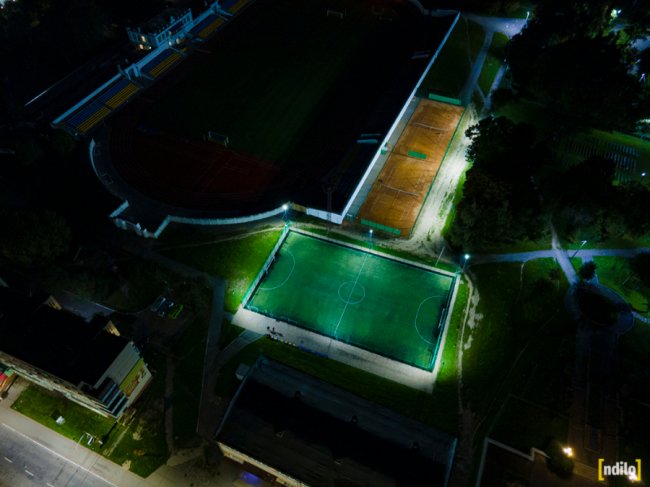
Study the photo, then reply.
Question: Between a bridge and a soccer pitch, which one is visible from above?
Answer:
soccer pitch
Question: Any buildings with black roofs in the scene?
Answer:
Yes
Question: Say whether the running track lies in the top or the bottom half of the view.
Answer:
top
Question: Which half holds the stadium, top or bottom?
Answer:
top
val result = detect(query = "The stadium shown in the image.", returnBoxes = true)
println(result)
[51,0,462,235]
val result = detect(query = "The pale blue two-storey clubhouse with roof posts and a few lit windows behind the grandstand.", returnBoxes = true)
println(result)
[128,8,193,53]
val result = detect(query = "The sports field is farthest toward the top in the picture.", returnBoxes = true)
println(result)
[133,4,404,170]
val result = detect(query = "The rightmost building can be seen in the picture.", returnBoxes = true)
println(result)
[475,437,554,487]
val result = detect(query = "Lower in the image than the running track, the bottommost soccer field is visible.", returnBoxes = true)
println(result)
[245,230,456,370]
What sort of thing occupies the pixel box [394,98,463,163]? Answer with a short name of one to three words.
tennis court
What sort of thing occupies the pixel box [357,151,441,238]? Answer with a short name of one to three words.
tennis court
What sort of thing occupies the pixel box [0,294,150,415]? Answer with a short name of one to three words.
building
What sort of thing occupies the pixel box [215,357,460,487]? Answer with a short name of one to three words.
building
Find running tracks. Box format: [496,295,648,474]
[99,0,424,218]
